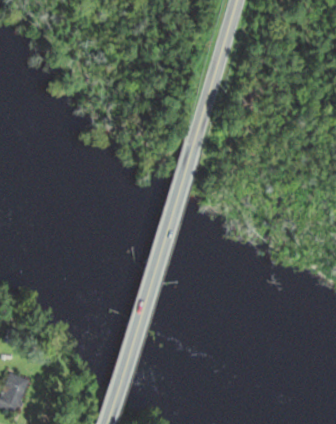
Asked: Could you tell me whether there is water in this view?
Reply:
Yes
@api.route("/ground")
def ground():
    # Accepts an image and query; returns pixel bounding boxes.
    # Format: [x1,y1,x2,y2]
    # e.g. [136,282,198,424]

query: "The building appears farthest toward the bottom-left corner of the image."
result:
[0,372,28,409]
